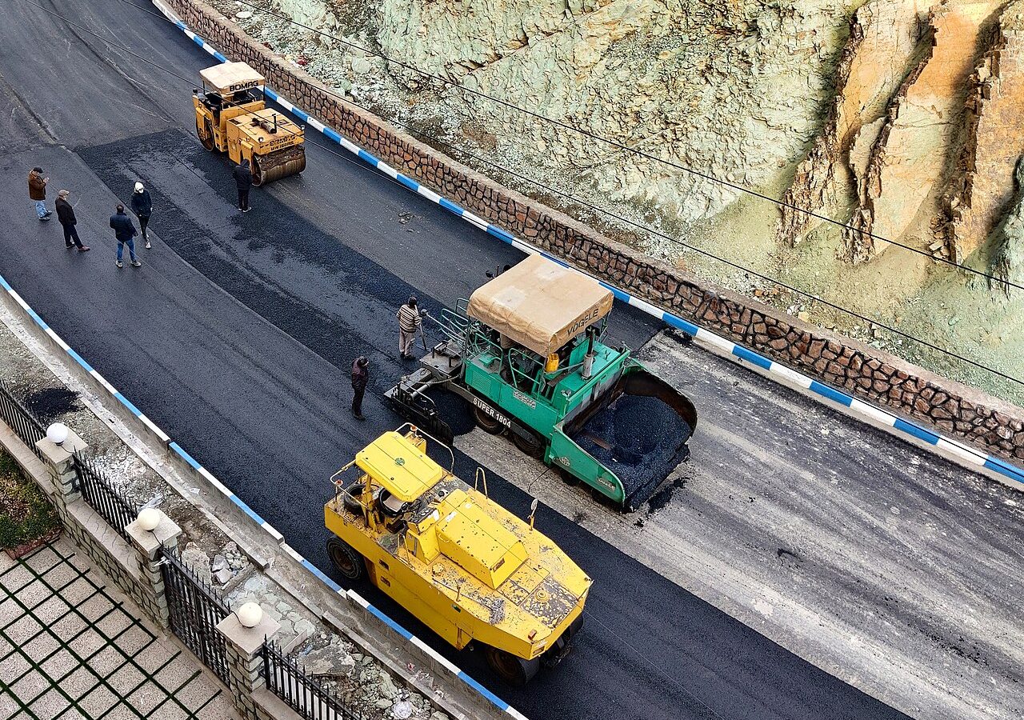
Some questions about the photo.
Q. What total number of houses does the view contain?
none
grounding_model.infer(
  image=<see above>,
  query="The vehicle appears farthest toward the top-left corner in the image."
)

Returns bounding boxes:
[193,65,305,188]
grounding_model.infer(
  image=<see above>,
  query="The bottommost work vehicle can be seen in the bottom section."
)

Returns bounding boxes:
[323,421,596,687]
